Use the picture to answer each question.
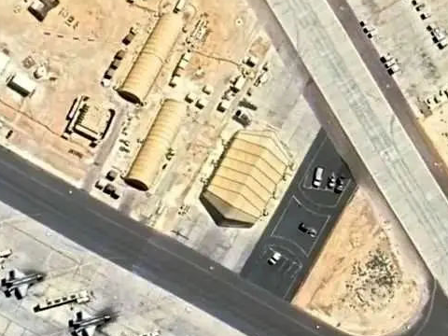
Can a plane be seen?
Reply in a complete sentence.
Yes, there's a plane here.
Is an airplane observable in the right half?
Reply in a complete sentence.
No, the scene shows no airplane in the right half.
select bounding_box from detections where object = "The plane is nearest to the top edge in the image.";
[0,270,43,299]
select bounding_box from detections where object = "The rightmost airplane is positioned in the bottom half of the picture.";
[67,312,111,336]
